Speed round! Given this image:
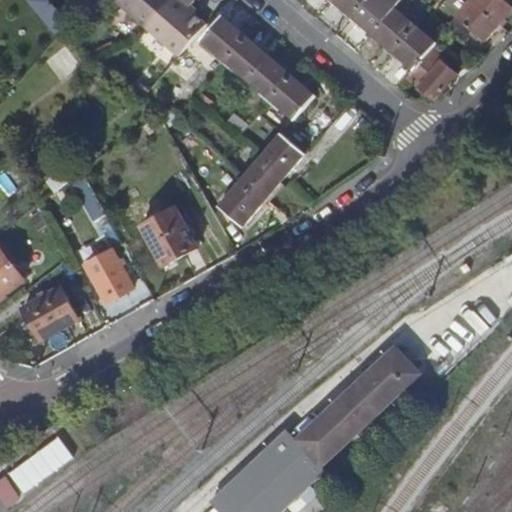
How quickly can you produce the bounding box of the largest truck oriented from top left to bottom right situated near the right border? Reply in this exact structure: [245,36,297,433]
[460,306,492,336]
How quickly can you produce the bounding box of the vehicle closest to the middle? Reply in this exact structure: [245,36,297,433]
[292,219,313,236]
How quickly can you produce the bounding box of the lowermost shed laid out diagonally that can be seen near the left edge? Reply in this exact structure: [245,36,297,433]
[10,437,76,494]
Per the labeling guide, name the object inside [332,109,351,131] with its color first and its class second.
white camper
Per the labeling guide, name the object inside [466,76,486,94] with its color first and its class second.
white car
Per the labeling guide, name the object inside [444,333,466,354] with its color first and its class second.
white vehicle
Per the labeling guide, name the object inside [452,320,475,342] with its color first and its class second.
white vehicle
